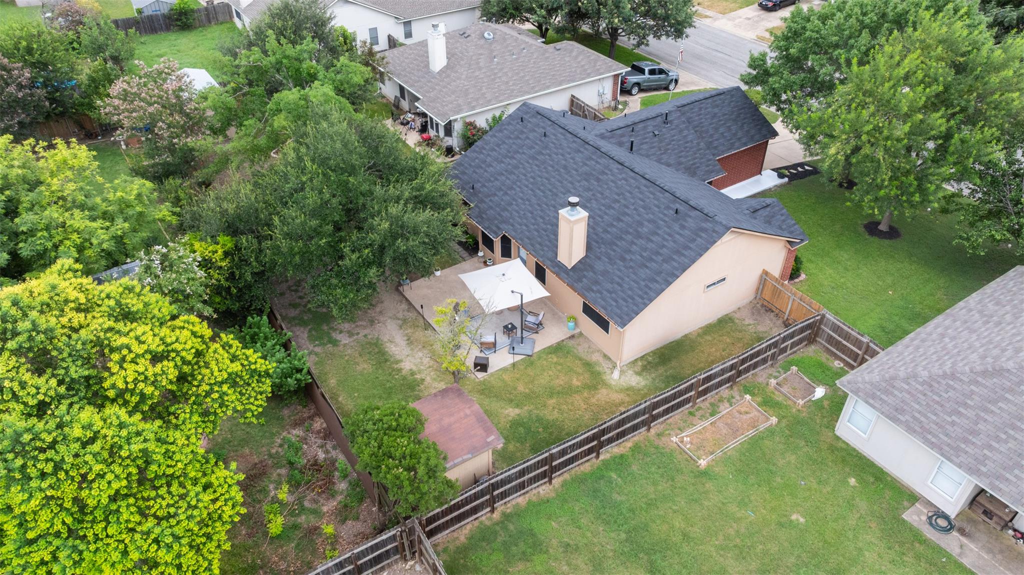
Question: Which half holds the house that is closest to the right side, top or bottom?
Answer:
bottom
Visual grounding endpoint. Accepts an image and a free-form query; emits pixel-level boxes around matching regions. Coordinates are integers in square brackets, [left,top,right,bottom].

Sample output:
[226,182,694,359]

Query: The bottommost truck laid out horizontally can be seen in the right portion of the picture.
[621,63,683,94]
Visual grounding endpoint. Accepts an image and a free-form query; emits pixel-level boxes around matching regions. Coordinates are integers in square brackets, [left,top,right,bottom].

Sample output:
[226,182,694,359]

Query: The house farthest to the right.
[834,268,1024,530]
